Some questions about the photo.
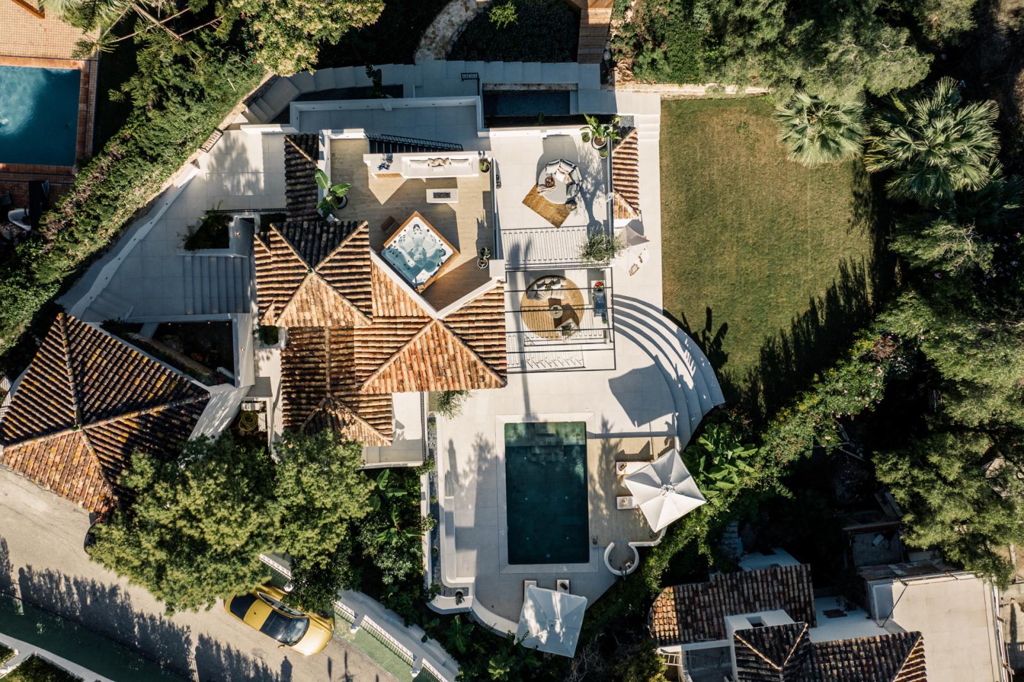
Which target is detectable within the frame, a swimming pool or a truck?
swimming pool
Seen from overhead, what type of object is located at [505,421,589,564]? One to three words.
swimming pool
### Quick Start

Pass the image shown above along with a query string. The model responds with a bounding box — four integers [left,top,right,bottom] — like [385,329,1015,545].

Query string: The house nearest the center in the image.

[128,94,643,469]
